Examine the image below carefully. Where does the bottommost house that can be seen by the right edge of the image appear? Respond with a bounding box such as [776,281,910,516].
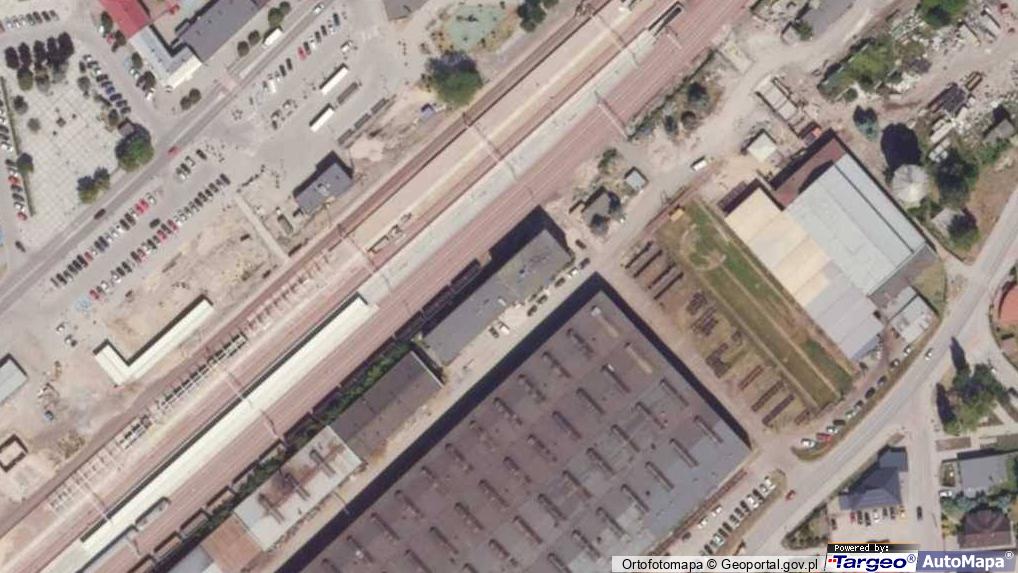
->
[960,506,1013,548]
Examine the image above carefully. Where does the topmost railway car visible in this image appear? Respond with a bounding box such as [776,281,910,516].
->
[449,263,479,291]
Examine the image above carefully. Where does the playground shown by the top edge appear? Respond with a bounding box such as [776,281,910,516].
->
[443,5,505,49]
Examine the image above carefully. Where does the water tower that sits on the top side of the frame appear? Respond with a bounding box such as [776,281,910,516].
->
[891,167,929,203]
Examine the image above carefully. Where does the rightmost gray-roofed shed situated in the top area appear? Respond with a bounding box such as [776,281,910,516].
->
[985,119,1018,153]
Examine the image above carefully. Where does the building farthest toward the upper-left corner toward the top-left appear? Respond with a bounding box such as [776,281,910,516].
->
[98,0,153,39]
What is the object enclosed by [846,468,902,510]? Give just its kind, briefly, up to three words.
house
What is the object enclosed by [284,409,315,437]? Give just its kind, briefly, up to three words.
rail car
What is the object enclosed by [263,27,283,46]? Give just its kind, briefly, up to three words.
vehicle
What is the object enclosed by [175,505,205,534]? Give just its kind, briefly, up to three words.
rail car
